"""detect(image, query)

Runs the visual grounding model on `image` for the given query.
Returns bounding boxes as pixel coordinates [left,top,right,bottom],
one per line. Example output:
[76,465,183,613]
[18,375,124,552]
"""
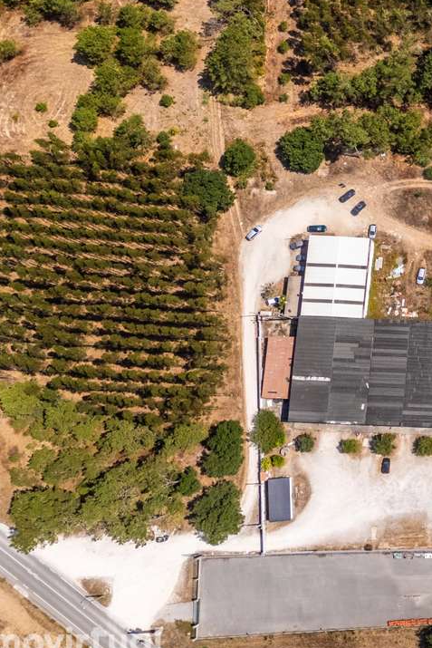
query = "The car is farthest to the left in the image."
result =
[245,223,263,240]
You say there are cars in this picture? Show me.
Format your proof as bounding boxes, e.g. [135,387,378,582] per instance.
[349,201,367,216]
[245,223,263,240]
[416,266,426,284]
[293,264,305,272]
[338,188,356,203]
[288,240,305,249]
[369,223,378,240]
[294,253,306,262]
[307,224,327,232]
[381,457,390,475]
